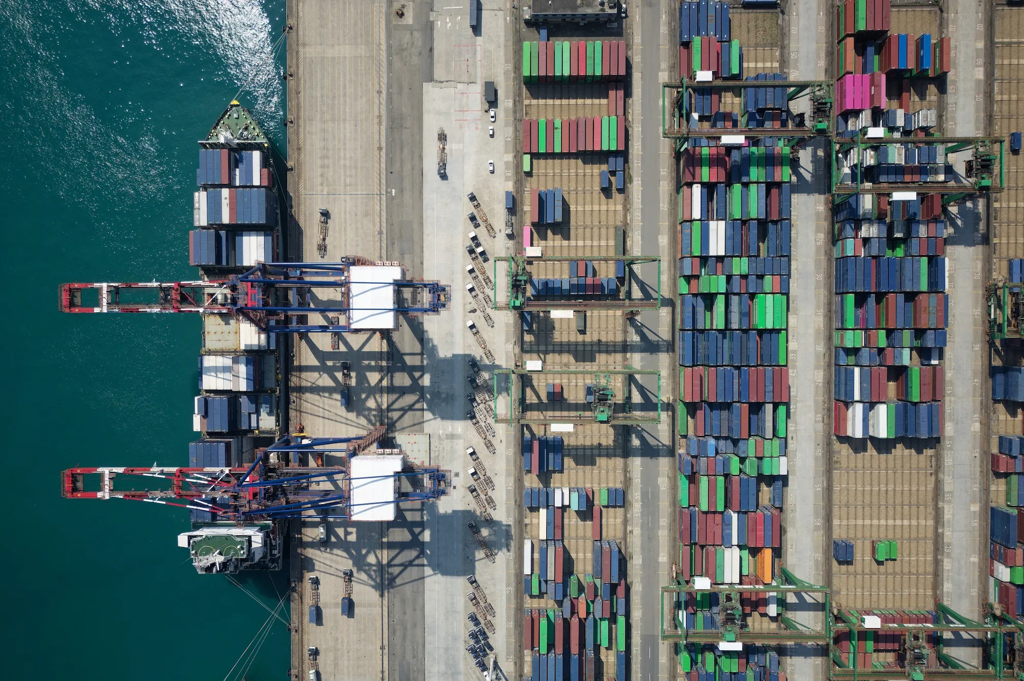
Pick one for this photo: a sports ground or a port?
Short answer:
port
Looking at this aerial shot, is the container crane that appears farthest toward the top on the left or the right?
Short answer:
right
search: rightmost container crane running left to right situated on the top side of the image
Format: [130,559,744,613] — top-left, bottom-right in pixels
[827,130,1002,213]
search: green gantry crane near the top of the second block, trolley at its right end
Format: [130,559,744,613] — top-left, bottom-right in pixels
[663,75,834,161]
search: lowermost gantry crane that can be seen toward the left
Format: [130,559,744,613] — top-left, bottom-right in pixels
[60,422,454,525]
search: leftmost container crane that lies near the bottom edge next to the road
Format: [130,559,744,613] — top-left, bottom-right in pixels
[660,554,828,651]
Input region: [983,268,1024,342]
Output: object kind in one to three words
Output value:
container crane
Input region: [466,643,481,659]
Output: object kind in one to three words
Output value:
work vehicle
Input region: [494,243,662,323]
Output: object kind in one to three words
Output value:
container crane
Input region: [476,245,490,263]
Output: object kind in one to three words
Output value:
work vehicle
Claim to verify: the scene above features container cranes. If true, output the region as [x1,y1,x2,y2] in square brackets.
[663,75,834,161]
[494,349,661,434]
[494,243,662,323]
[58,252,454,341]
[823,591,995,681]
[660,554,828,651]
[827,130,1002,213]
[60,422,454,525]
[983,268,1024,342]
